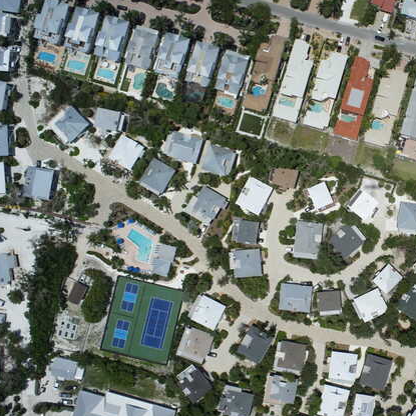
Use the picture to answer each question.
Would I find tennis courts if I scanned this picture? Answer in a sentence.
Yes, the frame does contain a tennis court.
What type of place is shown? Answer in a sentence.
This image shows a residential area.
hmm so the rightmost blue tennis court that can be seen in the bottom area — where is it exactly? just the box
[141,298,173,349]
